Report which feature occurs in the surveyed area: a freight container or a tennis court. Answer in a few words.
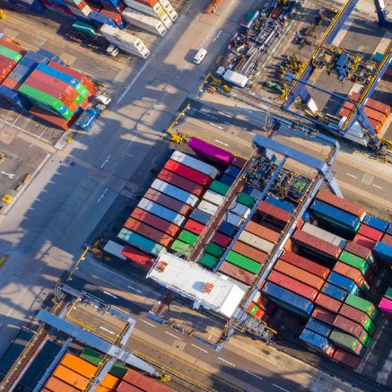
freight container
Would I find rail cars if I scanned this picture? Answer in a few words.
No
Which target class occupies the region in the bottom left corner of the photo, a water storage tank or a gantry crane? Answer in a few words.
gantry crane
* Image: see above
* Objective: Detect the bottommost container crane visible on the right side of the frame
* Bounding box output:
[136,112,351,354]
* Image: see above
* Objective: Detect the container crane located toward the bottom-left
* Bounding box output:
[0,280,159,392]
